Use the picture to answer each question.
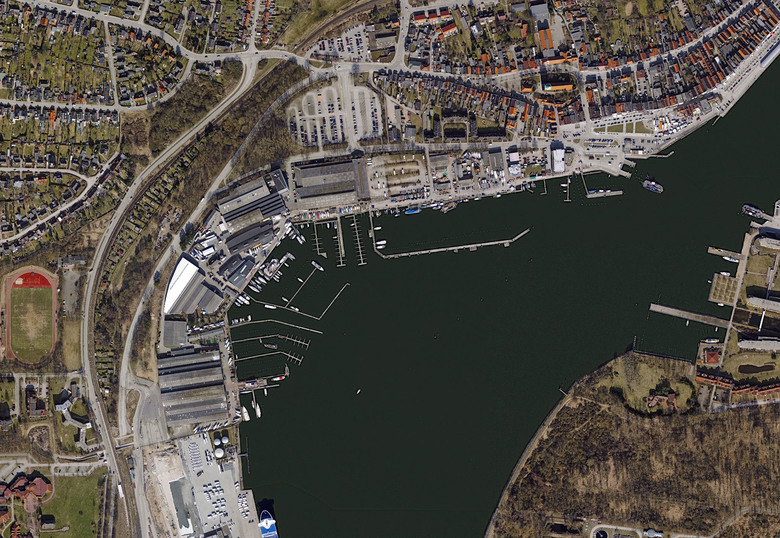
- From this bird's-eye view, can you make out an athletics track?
Yes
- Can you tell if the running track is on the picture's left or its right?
left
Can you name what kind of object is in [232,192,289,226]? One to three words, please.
building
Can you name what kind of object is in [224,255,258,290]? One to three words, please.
building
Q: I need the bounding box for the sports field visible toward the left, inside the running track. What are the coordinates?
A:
[11,287,52,363]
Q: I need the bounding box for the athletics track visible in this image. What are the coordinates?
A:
[6,267,56,367]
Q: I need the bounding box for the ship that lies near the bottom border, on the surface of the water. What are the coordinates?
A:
[259,511,280,538]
